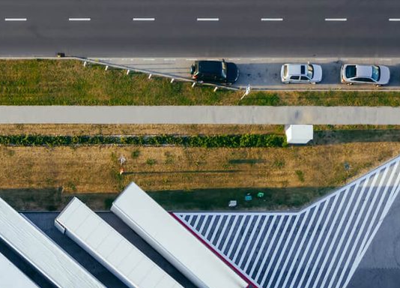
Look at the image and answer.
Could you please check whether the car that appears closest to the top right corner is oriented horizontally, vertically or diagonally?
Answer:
horizontally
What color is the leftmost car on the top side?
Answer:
black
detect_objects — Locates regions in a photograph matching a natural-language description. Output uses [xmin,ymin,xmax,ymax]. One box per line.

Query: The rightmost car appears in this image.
[337,60,388,85]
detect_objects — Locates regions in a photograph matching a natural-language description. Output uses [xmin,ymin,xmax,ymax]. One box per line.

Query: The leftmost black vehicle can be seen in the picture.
[189,56,236,82]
